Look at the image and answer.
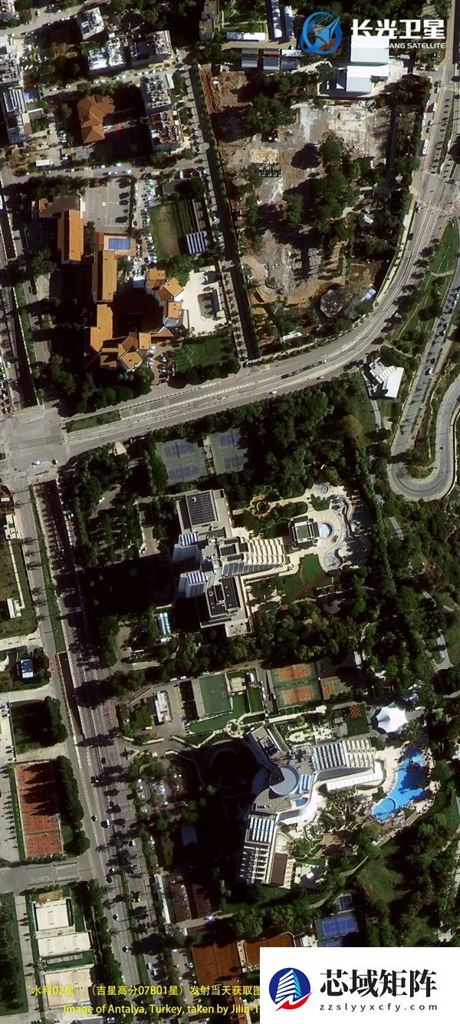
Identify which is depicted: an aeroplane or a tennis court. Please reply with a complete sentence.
I can see a tennis court in this picture.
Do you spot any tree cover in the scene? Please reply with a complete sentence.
Yes, there's tree cover in this view.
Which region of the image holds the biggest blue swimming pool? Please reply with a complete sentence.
The biggest blue swimming pool is in the bottom right part of the image.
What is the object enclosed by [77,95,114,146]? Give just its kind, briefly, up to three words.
house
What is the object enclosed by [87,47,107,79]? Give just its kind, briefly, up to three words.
building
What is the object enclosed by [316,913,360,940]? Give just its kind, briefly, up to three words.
tennis court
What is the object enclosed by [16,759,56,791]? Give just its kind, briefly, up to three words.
basketball court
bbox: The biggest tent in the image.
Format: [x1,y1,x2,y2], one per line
[375,703,410,737]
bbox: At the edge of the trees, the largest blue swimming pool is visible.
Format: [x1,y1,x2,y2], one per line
[372,746,429,821]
